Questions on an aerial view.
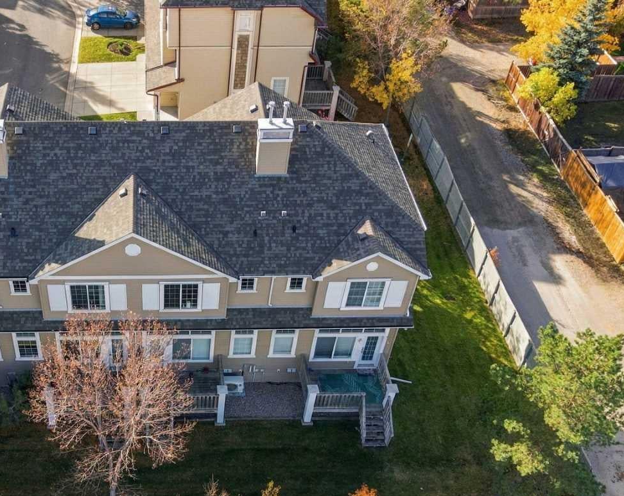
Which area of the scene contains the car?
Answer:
top left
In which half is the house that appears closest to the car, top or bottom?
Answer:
top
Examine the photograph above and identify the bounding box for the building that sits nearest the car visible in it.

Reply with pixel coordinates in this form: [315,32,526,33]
[141,0,324,120]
